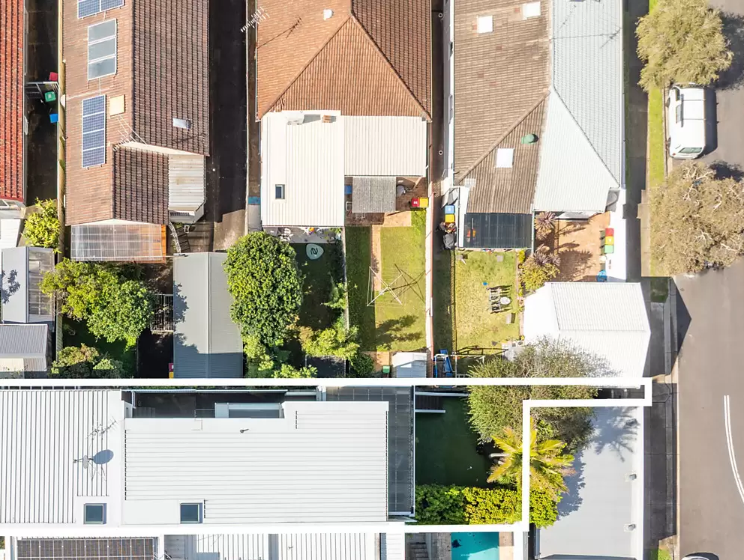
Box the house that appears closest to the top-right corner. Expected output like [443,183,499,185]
[444,0,622,247]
